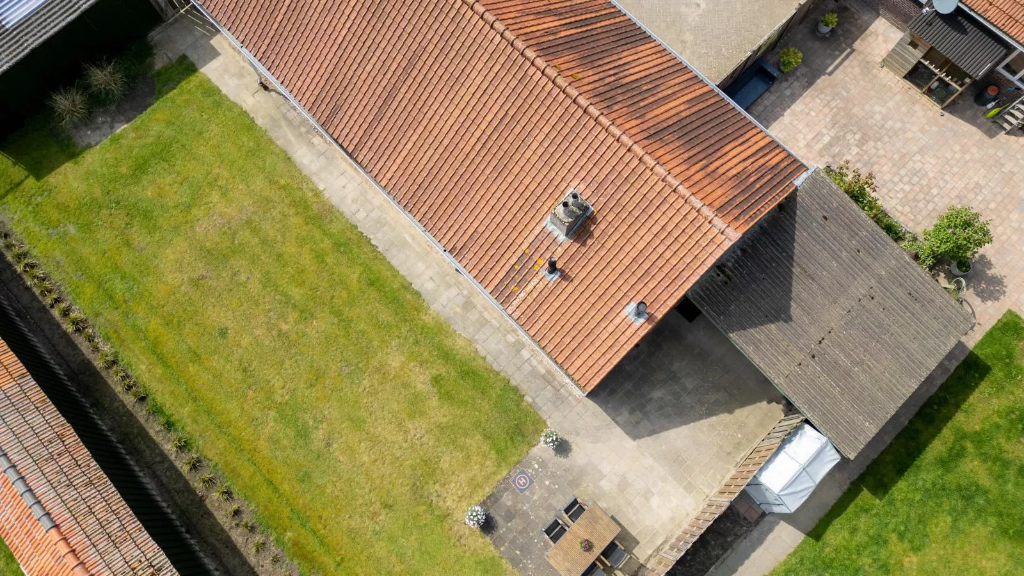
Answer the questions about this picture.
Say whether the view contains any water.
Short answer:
No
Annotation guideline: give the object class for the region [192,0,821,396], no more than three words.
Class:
house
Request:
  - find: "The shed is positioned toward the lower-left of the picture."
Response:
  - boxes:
[0,297,210,576]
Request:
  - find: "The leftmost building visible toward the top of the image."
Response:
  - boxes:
[0,0,148,143]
